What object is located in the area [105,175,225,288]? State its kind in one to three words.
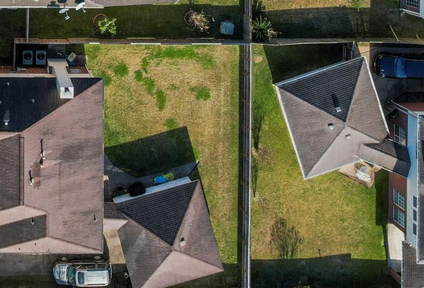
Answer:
building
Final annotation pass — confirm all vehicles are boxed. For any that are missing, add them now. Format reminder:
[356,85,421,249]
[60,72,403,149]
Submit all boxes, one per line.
[51,255,113,287]
[369,52,424,82]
